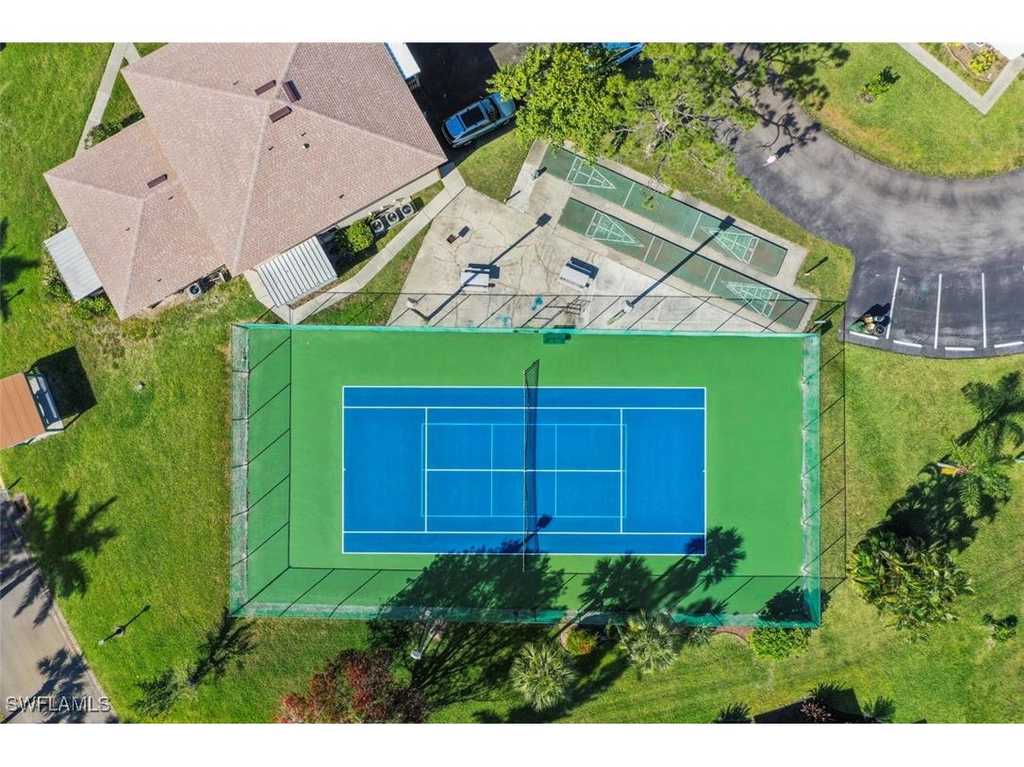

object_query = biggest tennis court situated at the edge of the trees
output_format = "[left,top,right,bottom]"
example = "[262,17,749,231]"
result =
[230,329,804,614]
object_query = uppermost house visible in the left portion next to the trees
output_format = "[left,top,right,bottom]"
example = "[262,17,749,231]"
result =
[43,0,447,319]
